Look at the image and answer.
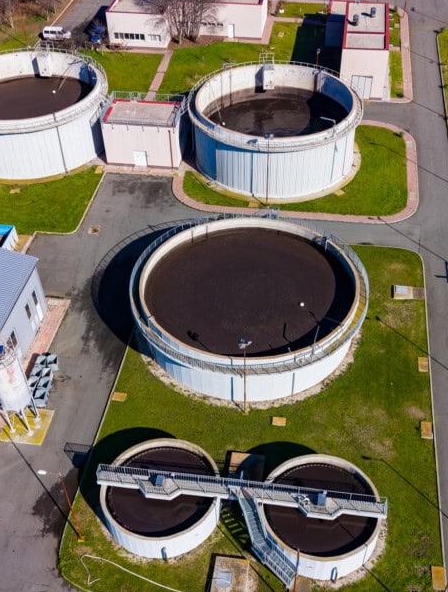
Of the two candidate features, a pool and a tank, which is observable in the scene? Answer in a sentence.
This aerial view contains a tank.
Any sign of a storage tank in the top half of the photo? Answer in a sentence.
Yes, there is a storage tank in the top half of the photo.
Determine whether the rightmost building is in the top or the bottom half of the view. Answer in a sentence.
Seen from above, the rightmost building lies in the top half of the view.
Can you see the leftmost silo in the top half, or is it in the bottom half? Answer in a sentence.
The leftmost silo is in the bottom half of the image.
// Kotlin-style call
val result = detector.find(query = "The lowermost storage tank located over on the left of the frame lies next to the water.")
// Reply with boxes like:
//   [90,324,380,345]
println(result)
[99,438,221,561]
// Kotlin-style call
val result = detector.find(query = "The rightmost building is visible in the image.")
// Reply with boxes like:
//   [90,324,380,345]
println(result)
[339,0,389,100]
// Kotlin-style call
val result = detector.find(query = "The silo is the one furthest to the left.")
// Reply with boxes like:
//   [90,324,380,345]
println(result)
[0,336,41,437]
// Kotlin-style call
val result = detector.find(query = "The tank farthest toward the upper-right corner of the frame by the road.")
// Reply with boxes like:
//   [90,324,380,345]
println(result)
[187,50,361,198]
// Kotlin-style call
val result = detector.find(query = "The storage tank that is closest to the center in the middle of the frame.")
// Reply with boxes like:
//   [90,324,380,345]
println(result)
[130,204,370,401]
